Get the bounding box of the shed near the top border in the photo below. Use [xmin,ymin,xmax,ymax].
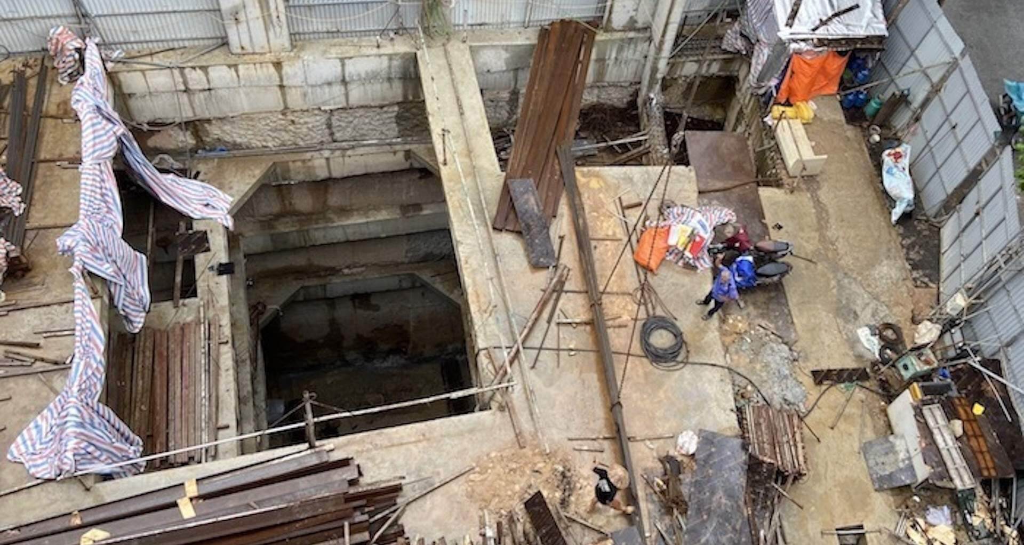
[728,0,885,103]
